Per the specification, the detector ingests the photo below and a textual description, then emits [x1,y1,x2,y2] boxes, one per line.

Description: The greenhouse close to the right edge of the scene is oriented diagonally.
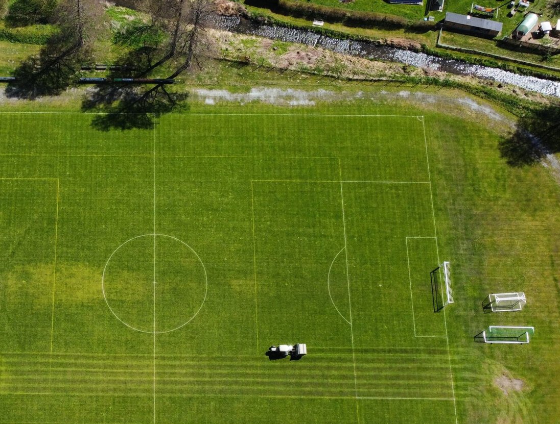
[515,9,544,39]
